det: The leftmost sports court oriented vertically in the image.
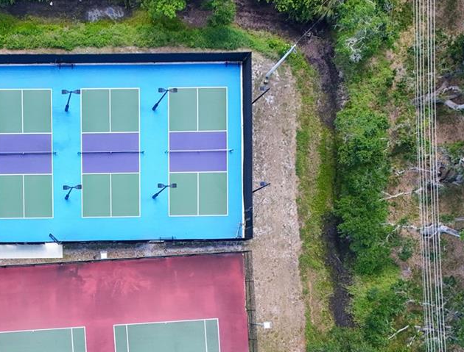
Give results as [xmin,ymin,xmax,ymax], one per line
[0,89,54,219]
